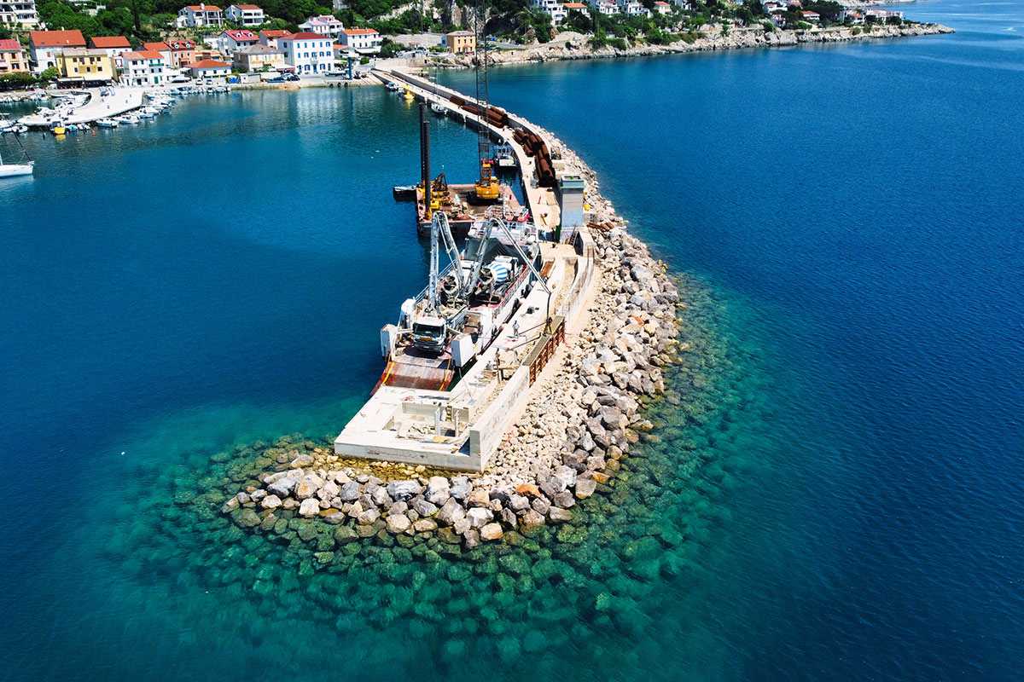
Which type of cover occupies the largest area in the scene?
water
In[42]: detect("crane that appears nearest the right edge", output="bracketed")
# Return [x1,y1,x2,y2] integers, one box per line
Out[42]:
[471,0,504,204]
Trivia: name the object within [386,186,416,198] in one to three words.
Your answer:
boat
